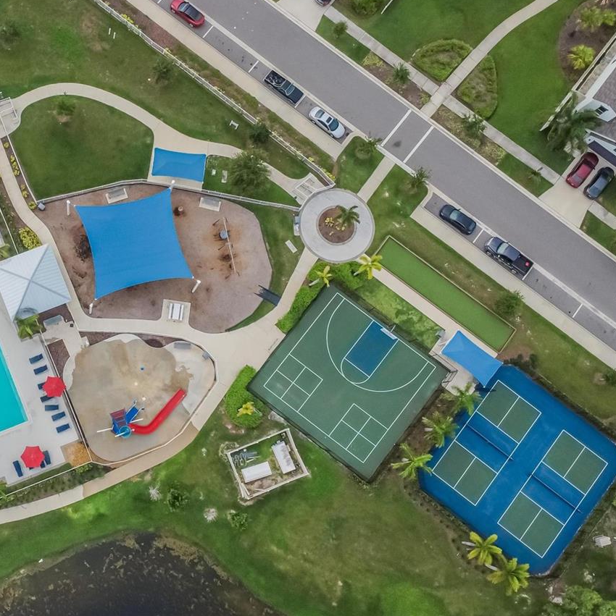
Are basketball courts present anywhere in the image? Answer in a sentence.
Yes, you can see a basketball court in this photo.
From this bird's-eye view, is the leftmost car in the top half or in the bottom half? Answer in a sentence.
Seen from above, the leftmost car lies in the top half of the view.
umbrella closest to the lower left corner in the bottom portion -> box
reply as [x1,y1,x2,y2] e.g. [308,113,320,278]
[20,444,45,470]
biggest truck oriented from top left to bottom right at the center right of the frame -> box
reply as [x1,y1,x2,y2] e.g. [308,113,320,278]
[484,236,537,277]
